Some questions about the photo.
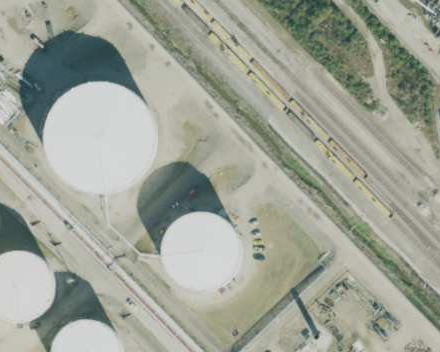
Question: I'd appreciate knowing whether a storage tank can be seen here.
Yes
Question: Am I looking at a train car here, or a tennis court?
train car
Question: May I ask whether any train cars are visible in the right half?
Yes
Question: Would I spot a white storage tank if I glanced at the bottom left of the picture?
Yes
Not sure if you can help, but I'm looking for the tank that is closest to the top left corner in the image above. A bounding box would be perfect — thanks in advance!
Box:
[44,79,160,196]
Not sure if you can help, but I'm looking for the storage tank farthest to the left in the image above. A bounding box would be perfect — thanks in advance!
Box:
[0,250,58,326]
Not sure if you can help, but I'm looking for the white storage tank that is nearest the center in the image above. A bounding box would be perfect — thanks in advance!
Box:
[160,211,242,294]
